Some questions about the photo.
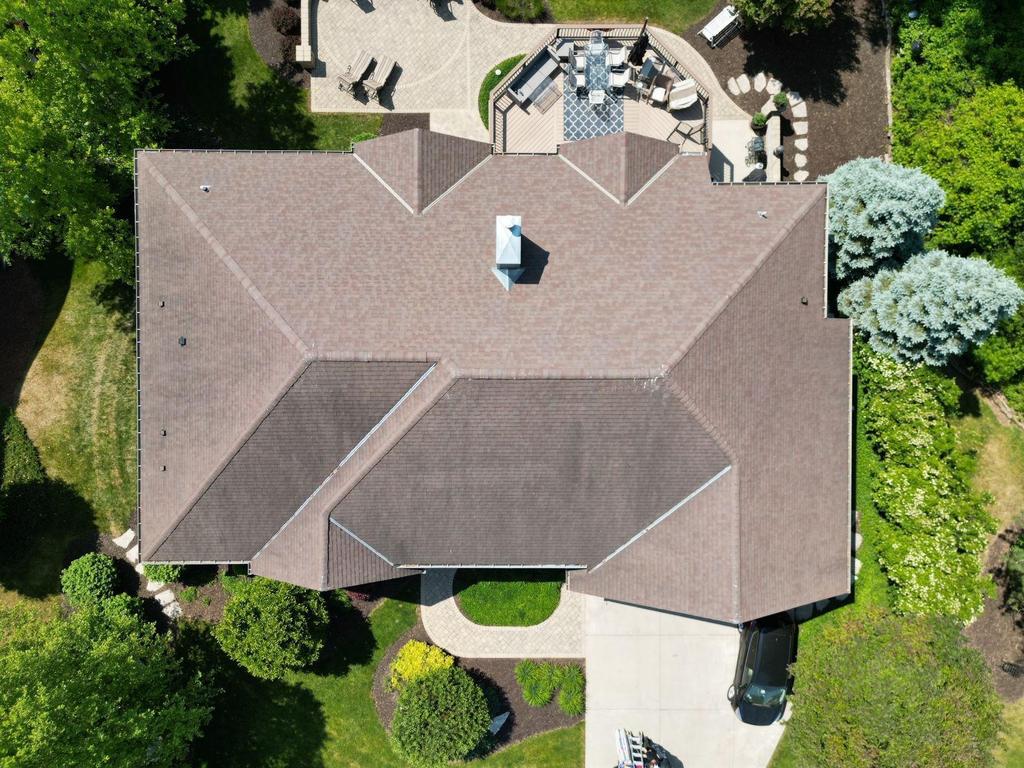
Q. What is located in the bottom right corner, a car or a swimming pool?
car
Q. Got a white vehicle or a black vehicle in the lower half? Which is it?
black vehicle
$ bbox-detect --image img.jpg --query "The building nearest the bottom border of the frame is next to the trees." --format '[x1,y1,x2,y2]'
[134,127,856,623]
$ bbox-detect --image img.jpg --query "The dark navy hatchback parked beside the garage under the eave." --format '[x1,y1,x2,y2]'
[728,610,794,727]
